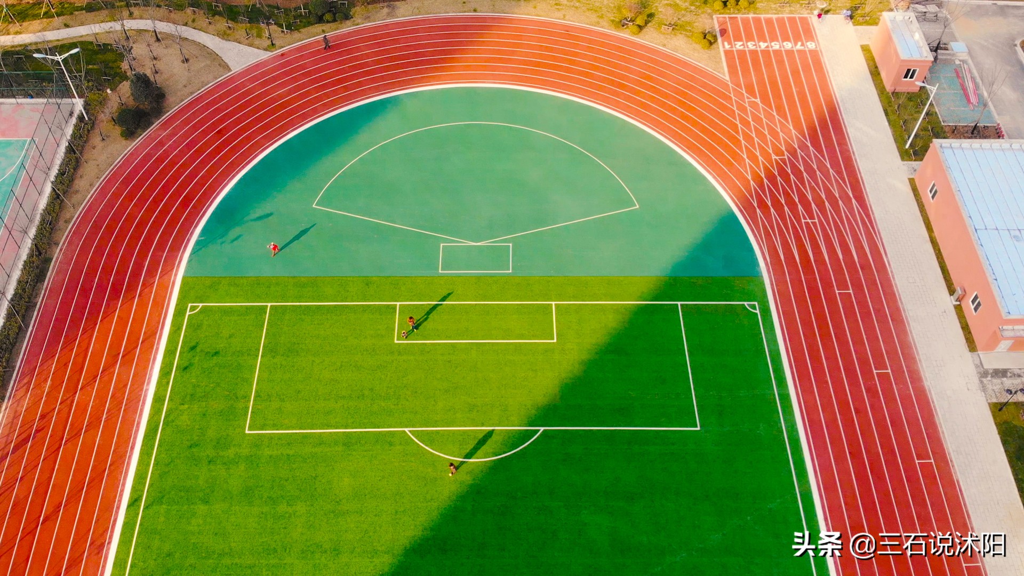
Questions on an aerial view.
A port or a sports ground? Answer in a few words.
sports ground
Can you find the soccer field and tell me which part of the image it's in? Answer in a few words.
bottom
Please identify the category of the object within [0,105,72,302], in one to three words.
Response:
basketball court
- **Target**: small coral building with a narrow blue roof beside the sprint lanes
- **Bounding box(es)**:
[870,11,934,92]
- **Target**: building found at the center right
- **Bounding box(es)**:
[915,140,1024,351]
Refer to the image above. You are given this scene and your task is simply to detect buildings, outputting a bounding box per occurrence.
[915,140,1024,351]
[870,11,934,92]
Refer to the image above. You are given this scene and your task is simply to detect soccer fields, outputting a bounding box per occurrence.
[113,275,829,576]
